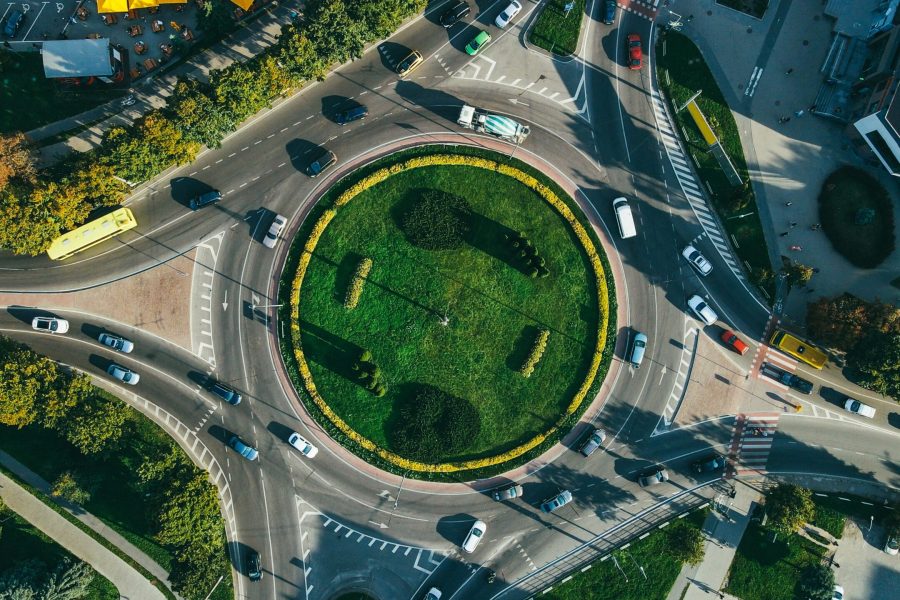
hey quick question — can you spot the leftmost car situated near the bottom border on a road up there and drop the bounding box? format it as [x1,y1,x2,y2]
[245,547,264,580]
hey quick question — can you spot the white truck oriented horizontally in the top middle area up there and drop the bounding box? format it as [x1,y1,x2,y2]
[454,101,529,142]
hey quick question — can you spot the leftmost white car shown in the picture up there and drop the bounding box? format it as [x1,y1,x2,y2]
[29,316,69,335]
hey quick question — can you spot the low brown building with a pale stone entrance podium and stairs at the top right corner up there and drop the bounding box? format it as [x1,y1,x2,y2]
[813,0,900,180]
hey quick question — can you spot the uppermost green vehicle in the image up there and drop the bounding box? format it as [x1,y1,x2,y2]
[463,29,493,59]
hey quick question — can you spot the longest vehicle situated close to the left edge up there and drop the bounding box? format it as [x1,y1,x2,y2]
[44,206,143,265]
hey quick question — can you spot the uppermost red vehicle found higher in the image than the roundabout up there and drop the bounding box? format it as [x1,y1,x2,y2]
[625,35,644,72]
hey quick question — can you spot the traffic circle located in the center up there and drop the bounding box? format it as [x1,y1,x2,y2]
[212,77,684,549]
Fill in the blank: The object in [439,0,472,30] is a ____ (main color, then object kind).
black car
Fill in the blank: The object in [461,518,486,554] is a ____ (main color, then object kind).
white car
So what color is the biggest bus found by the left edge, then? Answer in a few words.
yellow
